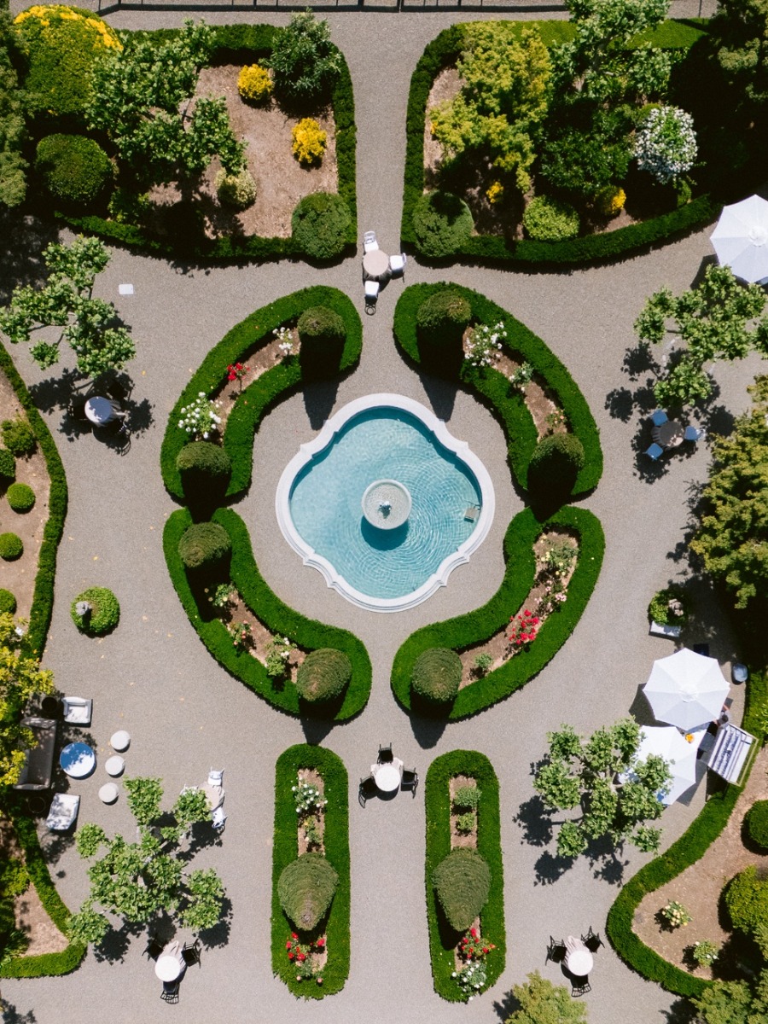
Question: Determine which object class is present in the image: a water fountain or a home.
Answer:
water fountain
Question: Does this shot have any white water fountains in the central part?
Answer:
Yes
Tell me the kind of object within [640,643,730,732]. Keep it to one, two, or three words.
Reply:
umbrella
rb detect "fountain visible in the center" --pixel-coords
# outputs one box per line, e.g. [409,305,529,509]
[276,393,494,612]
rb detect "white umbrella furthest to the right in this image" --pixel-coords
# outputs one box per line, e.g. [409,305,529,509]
[706,198,768,283]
